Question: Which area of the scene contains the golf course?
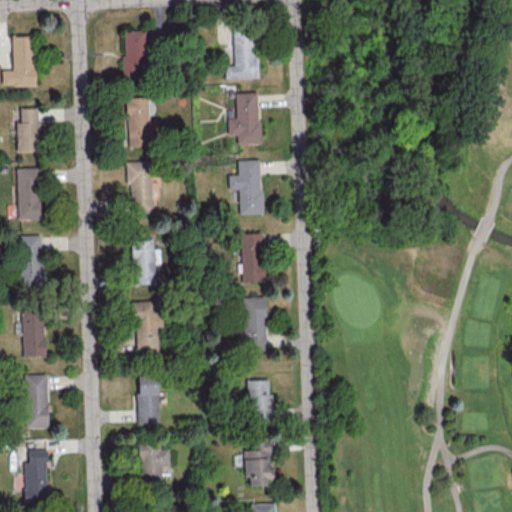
right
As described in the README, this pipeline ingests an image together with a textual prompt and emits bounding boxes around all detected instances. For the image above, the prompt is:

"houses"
[17,107,40,153]
[132,238,156,286]
[244,297,268,354]
[229,93,262,145]
[244,444,276,488]
[20,234,42,288]
[230,160,264,216]
[135,302,164,352]
[227,28,262,80]
[16,168,43,220]
[138,377,160,426]
[122,31,147,84]
[128,98,148,149]
[23,304,48,358]
[138,446,171,480]
[242,234,266,282]
[254,504,277,512]
[26,375,50,430]
[2,36,37,87]
[24,449,50,508]
[248,379,273,422]
[126,162,154,216]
